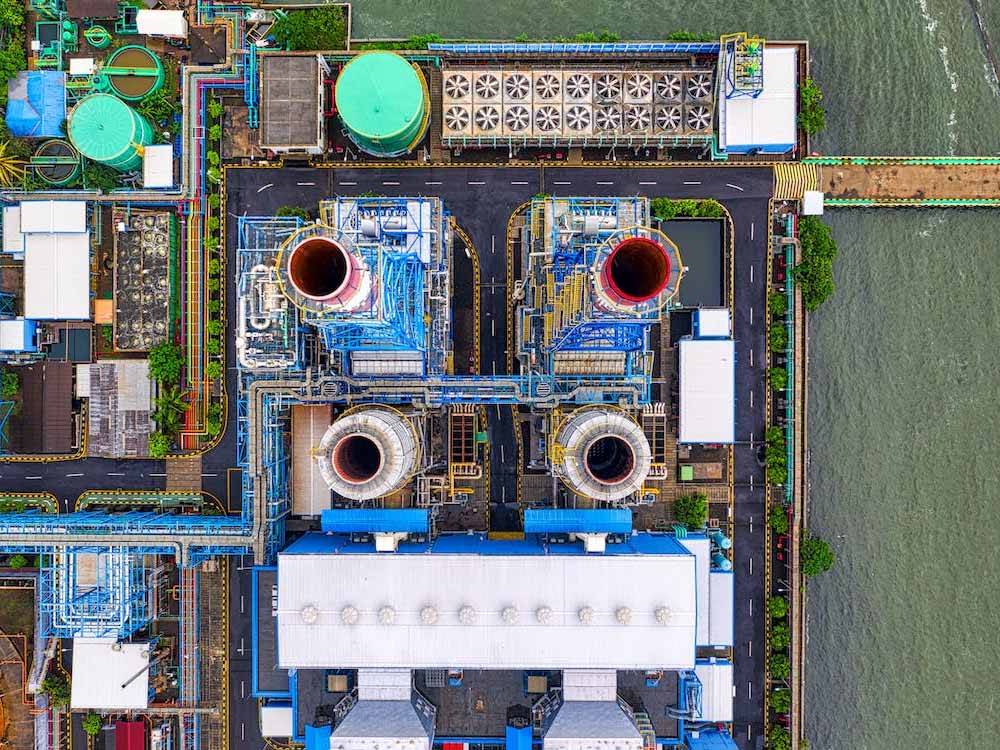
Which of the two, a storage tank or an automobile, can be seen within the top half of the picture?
storage tank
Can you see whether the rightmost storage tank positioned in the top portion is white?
No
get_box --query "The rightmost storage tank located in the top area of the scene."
[335,49,436,162]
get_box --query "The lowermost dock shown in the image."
[803,157,1000,206]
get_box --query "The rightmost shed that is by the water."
[797,191,823,217]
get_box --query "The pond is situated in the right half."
[660,217,727,307]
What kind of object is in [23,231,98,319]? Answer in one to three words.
building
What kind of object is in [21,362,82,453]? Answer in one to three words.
shed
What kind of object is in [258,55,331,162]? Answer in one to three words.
building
